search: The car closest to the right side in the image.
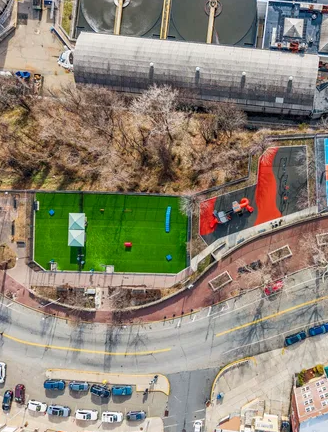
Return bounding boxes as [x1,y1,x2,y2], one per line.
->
[308,323,328,337]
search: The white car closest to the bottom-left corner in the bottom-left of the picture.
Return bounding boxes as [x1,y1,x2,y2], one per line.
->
[27,399,49,413]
